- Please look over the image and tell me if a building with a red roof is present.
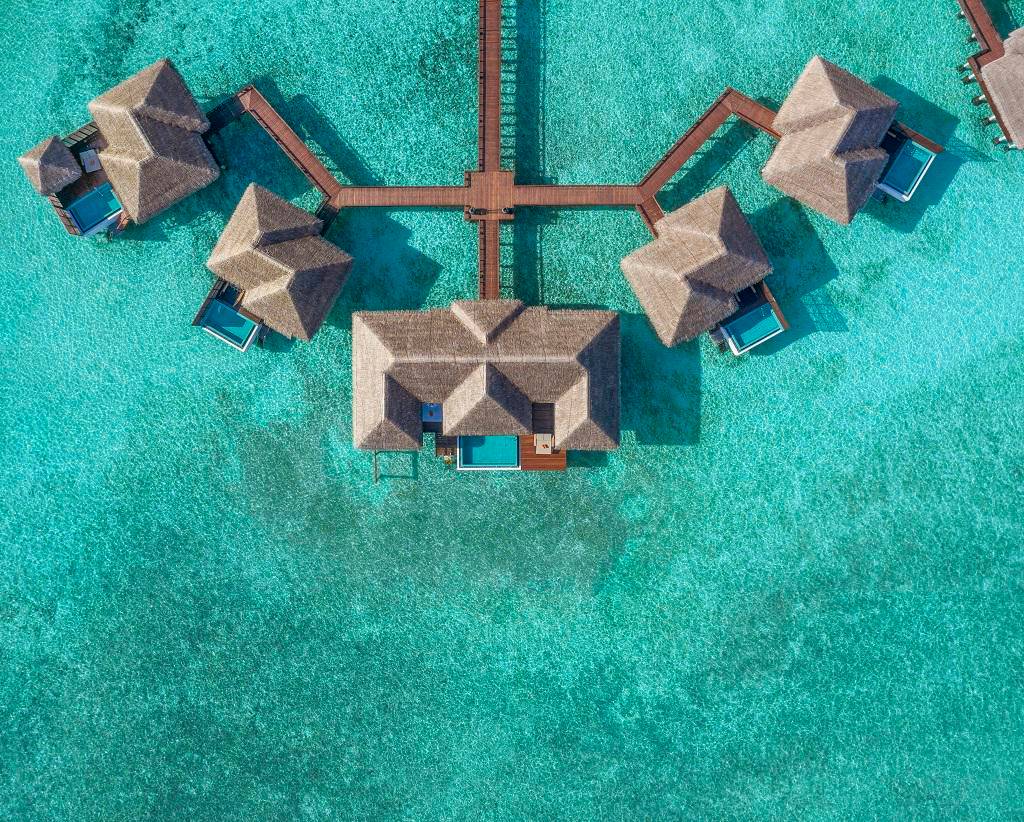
No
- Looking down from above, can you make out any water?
Yes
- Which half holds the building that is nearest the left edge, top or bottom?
top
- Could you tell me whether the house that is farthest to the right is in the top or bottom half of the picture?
top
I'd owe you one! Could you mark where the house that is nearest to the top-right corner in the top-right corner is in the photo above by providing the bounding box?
[954,11,1024,154]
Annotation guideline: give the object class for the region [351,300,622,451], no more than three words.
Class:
house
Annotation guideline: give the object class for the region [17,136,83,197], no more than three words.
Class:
building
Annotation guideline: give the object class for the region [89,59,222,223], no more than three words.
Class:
house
